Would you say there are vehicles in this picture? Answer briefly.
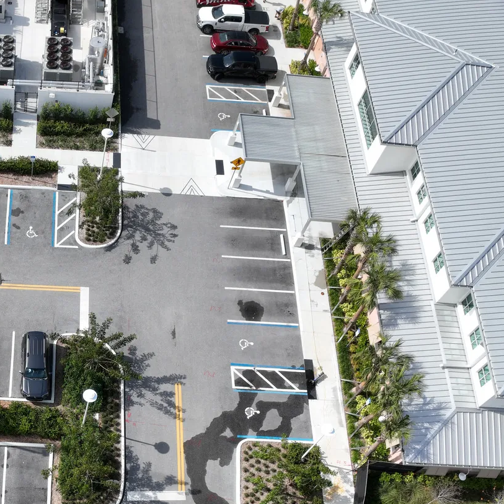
Yes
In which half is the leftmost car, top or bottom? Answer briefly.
bottom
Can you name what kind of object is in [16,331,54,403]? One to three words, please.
car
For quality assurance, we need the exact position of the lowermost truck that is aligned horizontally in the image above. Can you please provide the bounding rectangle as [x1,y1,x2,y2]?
[202,53,281,88]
